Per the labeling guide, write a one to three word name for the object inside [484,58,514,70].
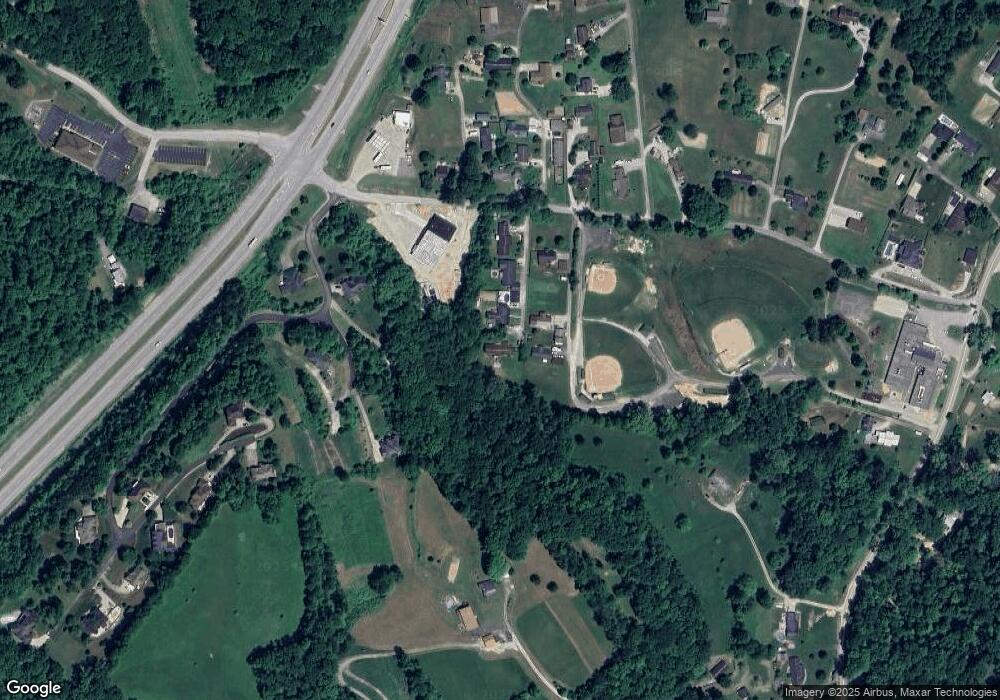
house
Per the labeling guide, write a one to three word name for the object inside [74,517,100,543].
house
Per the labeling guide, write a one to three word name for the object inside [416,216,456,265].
building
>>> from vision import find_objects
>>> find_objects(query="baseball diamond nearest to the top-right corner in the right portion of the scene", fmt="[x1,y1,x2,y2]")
[673,250,809,371]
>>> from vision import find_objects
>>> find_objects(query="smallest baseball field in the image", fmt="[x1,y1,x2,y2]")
[583,258,644,317]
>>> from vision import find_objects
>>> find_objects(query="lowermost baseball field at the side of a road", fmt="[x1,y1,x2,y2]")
[579,323,660,399]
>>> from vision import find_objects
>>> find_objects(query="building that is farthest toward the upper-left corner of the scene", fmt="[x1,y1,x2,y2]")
[47,125,105,166]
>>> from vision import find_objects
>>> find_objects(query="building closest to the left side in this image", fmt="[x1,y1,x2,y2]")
[9,610,37,638]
